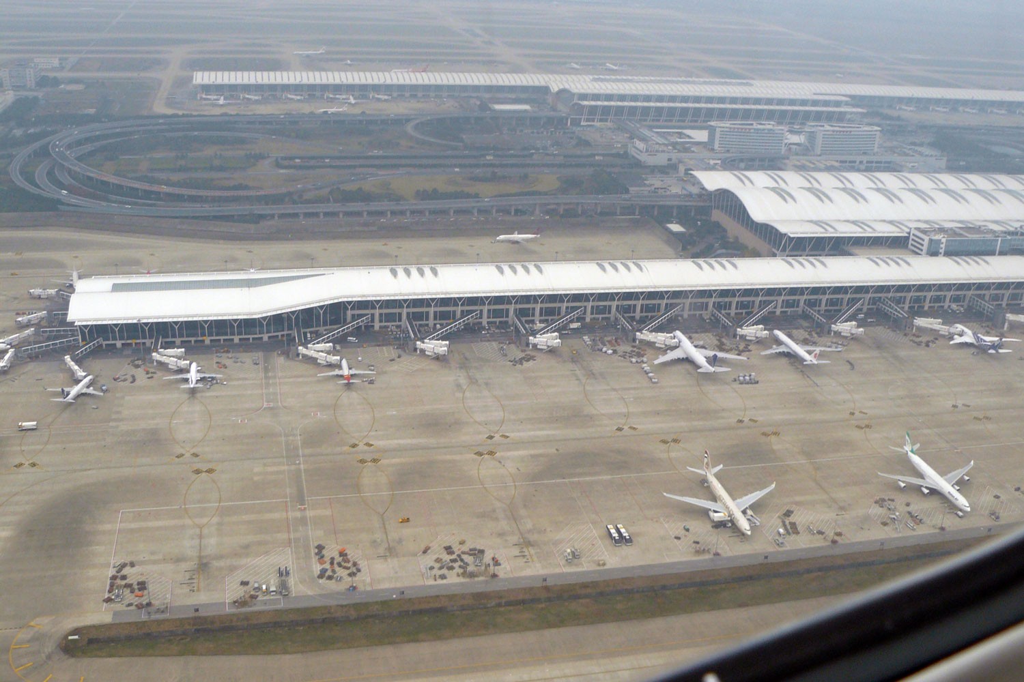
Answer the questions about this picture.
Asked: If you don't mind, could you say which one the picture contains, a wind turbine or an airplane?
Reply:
airplane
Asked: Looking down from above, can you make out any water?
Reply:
No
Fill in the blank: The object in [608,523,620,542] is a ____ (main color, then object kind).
white vehicle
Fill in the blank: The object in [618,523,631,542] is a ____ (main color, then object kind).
white vehicle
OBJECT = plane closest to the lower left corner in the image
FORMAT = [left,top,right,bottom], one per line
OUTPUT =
[39,376,106,405]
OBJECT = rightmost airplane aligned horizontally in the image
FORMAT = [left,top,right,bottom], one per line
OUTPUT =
[943,324,1024,354]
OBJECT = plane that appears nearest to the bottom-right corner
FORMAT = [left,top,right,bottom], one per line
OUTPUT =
[868,427,976,510]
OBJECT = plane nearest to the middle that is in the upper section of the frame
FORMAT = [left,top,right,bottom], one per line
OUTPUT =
[495,227,540,243]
